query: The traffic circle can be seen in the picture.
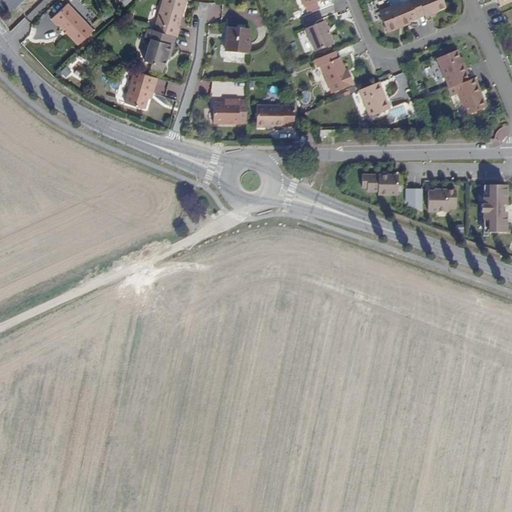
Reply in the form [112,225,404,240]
[220,150,282,210]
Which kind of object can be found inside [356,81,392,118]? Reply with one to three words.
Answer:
house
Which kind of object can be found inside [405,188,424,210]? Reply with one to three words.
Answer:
shed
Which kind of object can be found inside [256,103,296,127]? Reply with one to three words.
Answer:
house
